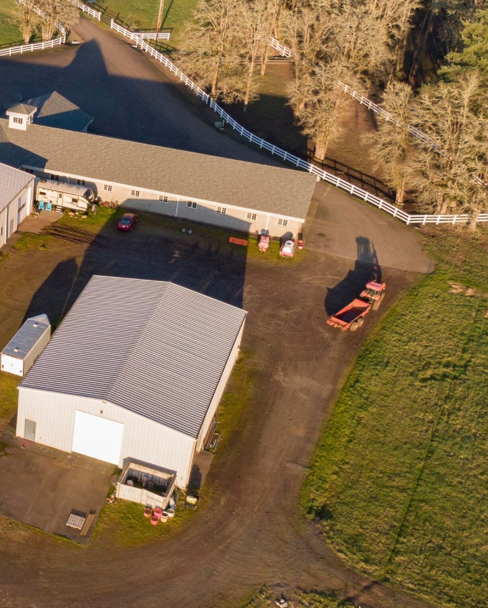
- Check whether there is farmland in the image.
Yes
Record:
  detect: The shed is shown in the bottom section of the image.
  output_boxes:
[14,275,249,487]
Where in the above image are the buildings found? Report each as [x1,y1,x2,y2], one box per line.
[0,92,325,240]
[14,275,249,487]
